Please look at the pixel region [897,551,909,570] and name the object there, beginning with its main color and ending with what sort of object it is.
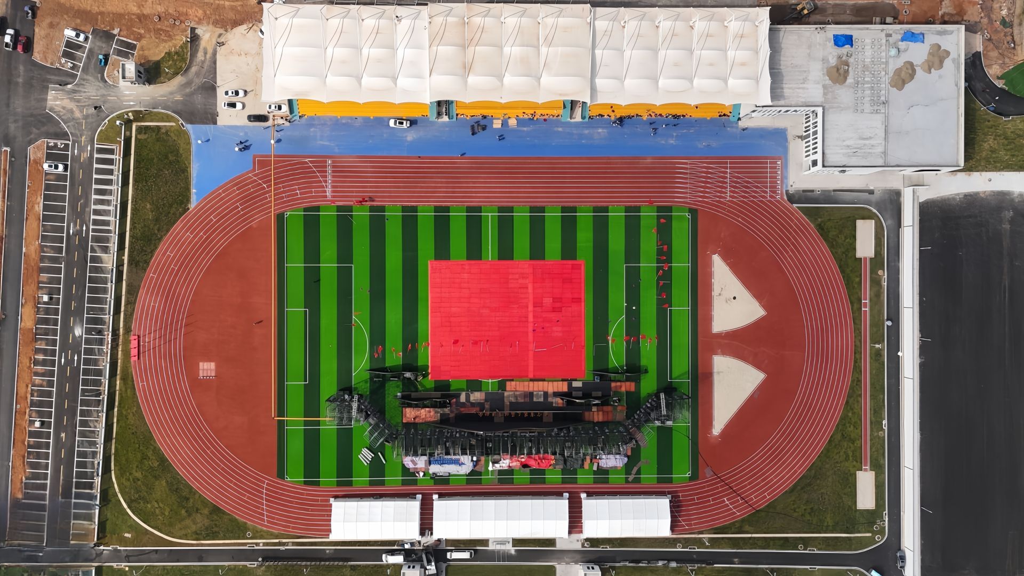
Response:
gray vehicle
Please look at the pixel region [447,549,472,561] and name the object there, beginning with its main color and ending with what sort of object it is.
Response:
white vehicle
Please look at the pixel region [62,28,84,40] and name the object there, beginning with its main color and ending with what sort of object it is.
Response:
white vehicle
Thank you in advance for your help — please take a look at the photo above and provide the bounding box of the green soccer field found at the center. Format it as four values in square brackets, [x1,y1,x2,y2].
[277,205,696,486]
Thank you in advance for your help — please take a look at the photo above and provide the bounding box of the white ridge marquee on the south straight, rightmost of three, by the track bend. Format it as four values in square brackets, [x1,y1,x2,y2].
[580,495,672,538]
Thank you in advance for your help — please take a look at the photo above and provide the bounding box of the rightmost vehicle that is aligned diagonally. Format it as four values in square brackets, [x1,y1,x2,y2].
[776,0,813,25]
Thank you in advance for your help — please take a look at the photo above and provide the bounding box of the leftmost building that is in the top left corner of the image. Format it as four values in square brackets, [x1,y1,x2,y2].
[119,62,146,87]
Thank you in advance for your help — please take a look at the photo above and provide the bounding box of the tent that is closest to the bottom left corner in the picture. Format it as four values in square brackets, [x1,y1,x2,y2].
[330,496,423,540]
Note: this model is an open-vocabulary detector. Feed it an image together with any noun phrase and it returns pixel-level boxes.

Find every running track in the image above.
[134,156,854,534]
